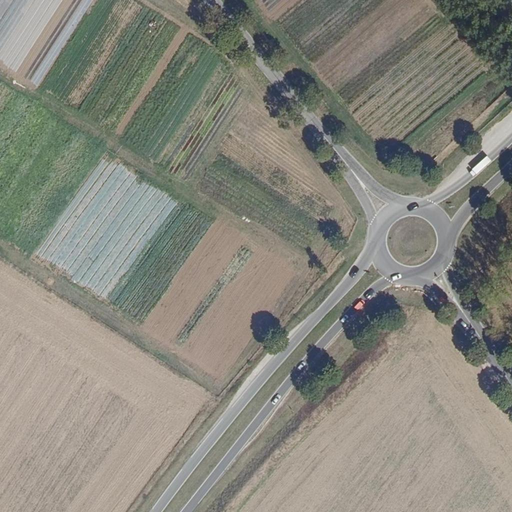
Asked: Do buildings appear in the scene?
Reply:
No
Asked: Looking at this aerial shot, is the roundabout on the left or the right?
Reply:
right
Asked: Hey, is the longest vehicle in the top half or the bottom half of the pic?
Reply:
top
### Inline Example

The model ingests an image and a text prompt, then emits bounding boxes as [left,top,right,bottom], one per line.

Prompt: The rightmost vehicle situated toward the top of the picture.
[470,156,492,176]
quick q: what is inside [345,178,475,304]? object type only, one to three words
roundabout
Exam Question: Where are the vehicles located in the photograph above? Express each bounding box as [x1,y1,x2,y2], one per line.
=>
[392,274,402,280]
[461,319,470,330]
[408,202,419,210]
[272,394,281,404]
[355,300,366,310]
[296,361,306,372]
[364,289,374,299]
[470,156,492,176]
[350,266,359,276]
[340,314,350,324]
